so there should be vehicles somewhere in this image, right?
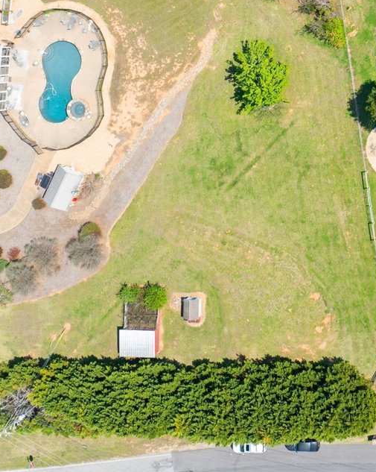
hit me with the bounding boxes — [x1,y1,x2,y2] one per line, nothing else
[234,438,268,457]
[285,437,320,455]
